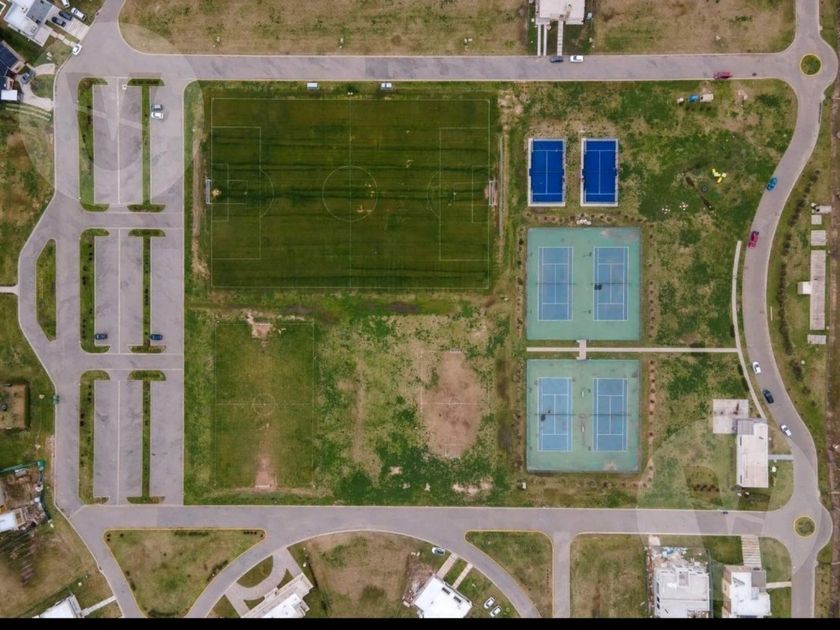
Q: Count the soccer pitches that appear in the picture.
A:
3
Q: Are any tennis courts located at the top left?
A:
No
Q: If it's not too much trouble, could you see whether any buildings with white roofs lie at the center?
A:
No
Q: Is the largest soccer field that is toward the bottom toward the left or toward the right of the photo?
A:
left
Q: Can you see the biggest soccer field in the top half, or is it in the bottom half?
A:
top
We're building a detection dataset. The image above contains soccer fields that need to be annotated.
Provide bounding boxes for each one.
[205,93,495,291]
[416,349,492,461]
[210,318,318,491]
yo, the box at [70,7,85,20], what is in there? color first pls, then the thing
white vehicle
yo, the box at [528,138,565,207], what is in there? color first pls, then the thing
blue sports court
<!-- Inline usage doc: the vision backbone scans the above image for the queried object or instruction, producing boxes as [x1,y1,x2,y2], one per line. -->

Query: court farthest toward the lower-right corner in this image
[593,378,632,452]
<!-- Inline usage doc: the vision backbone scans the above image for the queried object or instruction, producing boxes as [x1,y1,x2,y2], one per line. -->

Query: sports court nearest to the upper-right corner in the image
[581,138,619,207]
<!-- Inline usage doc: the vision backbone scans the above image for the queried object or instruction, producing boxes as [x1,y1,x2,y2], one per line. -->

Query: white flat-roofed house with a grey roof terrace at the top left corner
[4,0,57,49]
